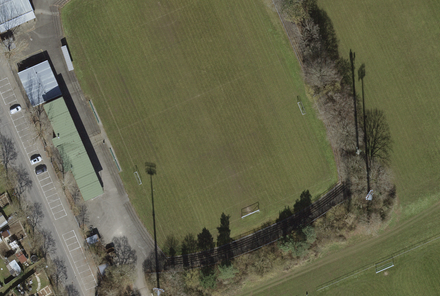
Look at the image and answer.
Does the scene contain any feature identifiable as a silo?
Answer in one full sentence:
No, no silo is visible in the view.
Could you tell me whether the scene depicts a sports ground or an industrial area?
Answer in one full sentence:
This looks like a sports ground.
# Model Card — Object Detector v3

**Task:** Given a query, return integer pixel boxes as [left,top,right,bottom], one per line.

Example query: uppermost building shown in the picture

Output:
[0,0,36,32]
